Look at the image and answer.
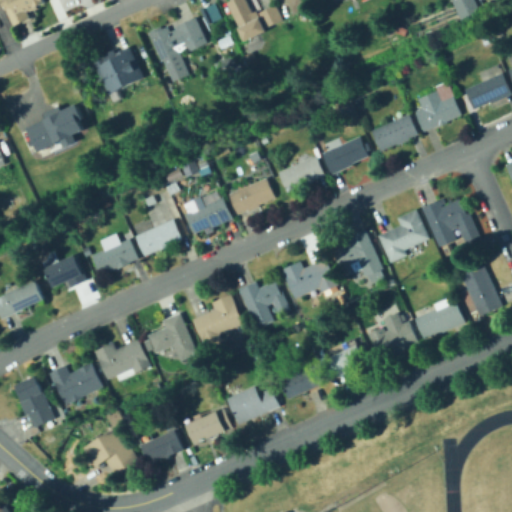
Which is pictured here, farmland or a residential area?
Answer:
residential area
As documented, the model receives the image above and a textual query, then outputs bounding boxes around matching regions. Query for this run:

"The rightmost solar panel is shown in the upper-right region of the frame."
[474,86,508,106]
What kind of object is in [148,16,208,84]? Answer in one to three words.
house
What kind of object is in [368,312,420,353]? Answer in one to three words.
house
